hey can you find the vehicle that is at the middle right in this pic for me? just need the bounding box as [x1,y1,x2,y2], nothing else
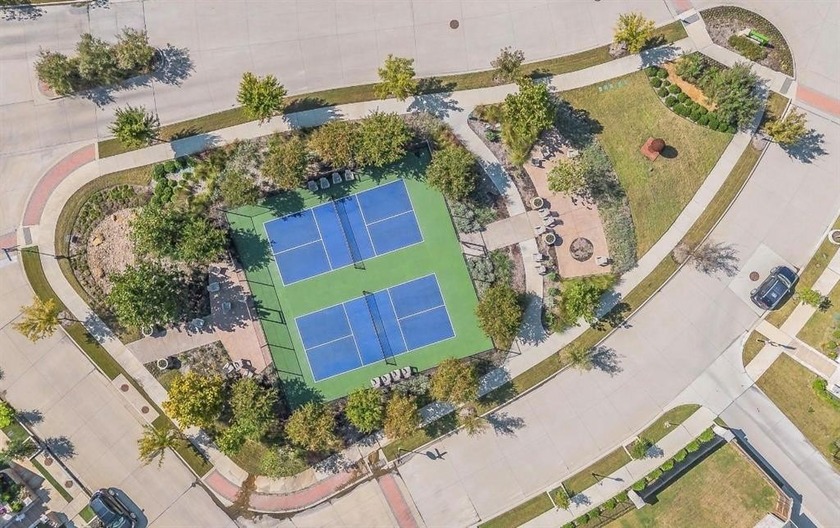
[751,263,799,313]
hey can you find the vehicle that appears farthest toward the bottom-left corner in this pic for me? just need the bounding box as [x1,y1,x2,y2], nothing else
[87,489,135,528]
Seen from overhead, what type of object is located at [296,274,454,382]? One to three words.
sports court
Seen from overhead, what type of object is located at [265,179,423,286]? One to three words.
sports court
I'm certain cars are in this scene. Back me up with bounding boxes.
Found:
[751,263,799,313]
[87,489,135,528]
